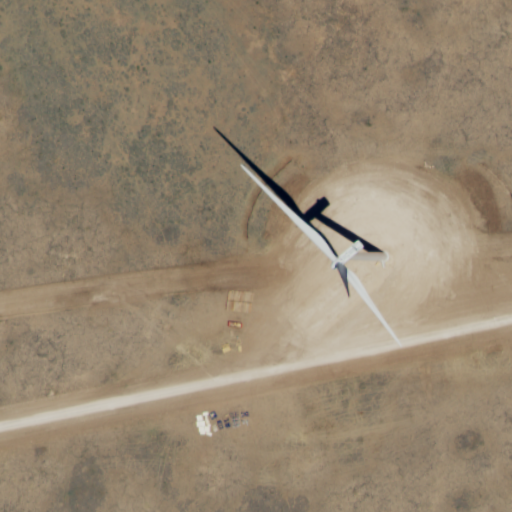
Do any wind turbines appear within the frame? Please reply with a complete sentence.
Yes, looking at the shot, I can spot a wind turbine.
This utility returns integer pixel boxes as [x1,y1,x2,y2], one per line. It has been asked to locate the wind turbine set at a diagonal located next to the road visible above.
[242,165,400,344]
